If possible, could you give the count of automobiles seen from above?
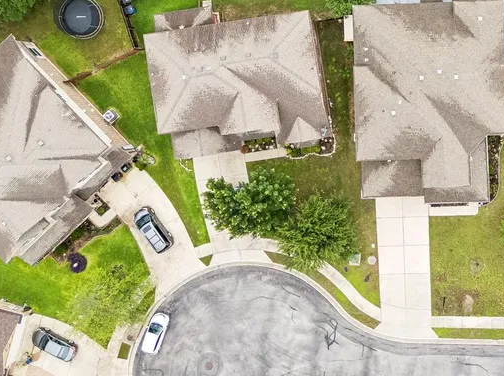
three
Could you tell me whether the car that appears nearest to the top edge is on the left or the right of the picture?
left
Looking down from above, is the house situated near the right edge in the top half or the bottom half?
top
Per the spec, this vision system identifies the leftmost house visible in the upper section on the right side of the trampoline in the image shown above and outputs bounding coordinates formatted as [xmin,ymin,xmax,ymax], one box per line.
[143,0,330,160]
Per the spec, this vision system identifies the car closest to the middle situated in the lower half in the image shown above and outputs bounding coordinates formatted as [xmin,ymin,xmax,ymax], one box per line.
[131,205,176,256]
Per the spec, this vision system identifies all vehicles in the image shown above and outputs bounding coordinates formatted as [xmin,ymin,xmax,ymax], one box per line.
[137,311,171,356]
[31,329,78,363]
[131,205,176,256]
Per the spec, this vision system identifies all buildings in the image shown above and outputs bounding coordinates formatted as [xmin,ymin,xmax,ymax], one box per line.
[0,35,142,266]
[0,298,39,376]
[343,0,504,205]
[143,0,330,160]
